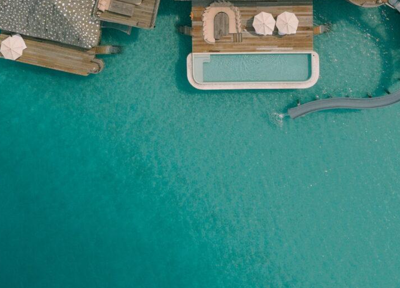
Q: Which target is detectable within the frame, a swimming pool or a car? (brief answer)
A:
swimming pool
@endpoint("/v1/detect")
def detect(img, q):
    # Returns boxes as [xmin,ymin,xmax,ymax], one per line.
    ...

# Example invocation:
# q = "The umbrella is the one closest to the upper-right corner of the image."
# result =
[276,11,298,33]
